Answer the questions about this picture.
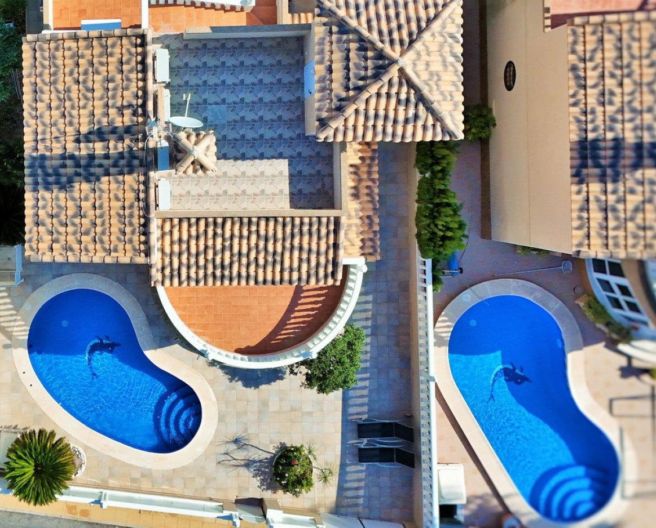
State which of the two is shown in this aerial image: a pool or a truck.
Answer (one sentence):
This aerial view contains a pool.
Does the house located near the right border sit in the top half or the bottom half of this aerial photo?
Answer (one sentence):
Seen from above, the house located near the right border lies in the top half of the view.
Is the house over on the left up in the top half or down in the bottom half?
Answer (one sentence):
The top half of the photo is where the house over on the left is.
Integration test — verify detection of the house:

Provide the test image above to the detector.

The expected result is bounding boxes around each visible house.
[22,0,470,368]
[484,0,656,361]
